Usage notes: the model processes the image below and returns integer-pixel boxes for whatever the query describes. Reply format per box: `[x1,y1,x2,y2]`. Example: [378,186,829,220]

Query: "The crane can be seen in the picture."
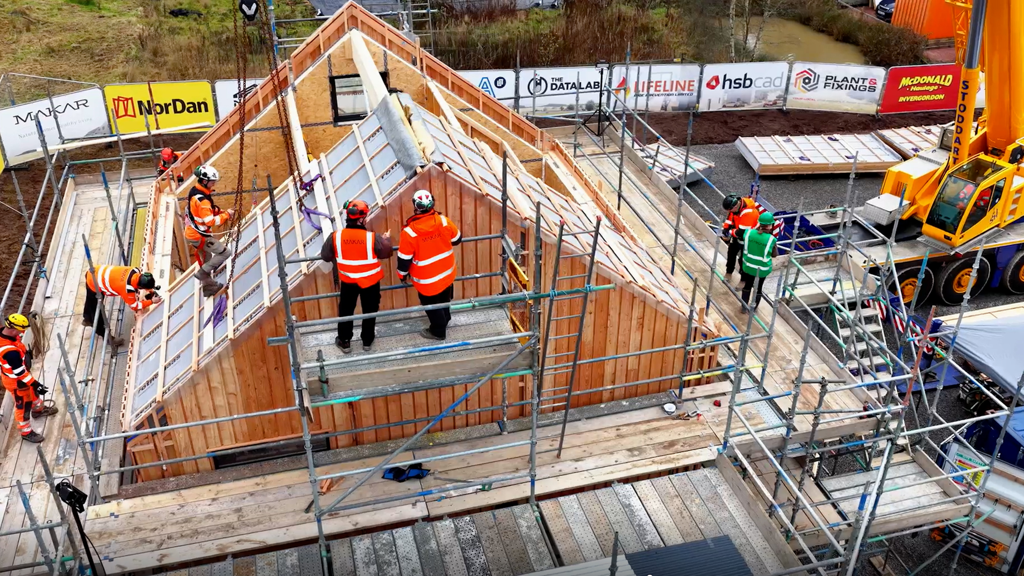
[734,0,1024,384]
